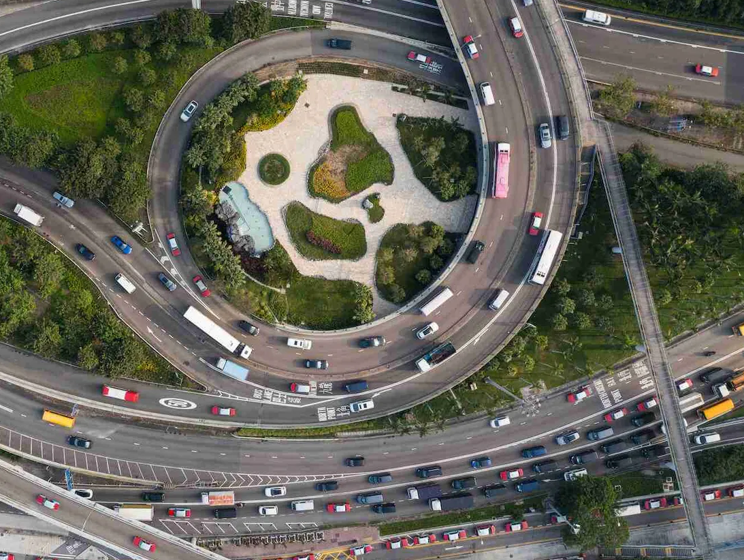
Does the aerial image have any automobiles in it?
Yes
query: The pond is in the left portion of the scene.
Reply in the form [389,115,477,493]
[218,181,276,256]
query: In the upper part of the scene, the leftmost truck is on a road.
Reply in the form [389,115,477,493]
[15,204,46,226]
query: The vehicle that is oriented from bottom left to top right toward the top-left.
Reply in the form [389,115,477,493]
[180,99,199,123]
